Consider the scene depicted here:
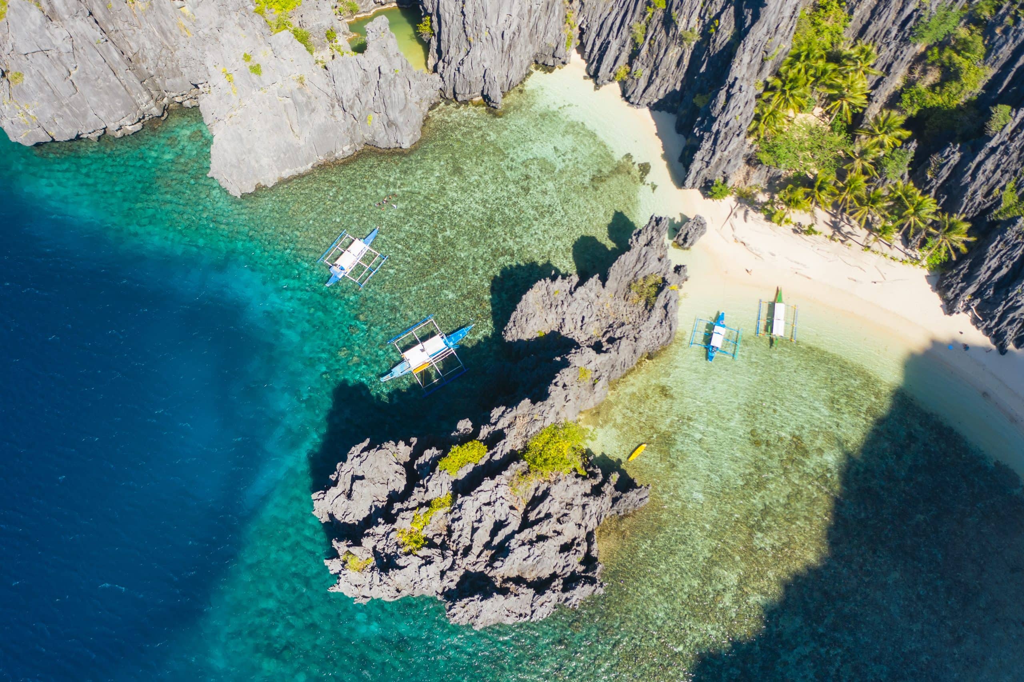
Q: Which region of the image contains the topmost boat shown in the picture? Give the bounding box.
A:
[315,223,393,286]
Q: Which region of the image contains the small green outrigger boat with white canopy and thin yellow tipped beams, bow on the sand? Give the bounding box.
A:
[752,284,800,348]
